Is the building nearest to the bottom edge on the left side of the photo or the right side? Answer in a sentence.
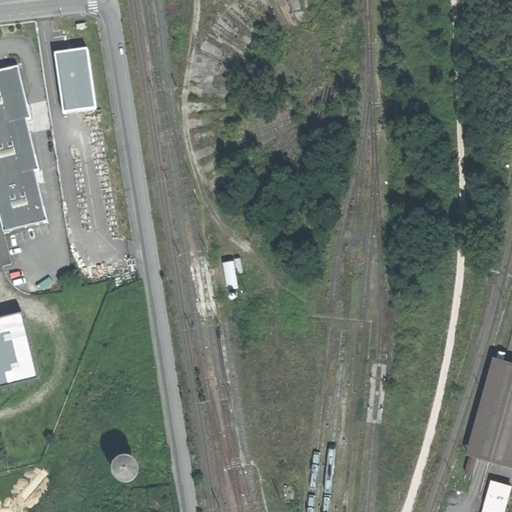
The building nearest to the bottom edge is on the right side of the image.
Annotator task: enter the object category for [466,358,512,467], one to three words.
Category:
building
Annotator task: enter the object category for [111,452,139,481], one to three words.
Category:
water tower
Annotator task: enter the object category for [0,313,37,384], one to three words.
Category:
building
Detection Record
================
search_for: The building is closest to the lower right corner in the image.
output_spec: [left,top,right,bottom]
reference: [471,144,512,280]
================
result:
[481,480,512,512]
